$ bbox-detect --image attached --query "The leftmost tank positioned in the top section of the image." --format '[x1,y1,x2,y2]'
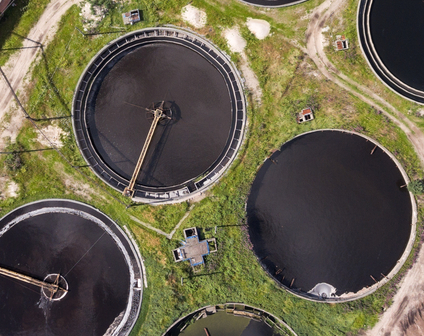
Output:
[70,27,249,208]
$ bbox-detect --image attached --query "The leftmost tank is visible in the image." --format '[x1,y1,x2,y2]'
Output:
[0,198,147,336]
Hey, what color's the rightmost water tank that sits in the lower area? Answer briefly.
black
